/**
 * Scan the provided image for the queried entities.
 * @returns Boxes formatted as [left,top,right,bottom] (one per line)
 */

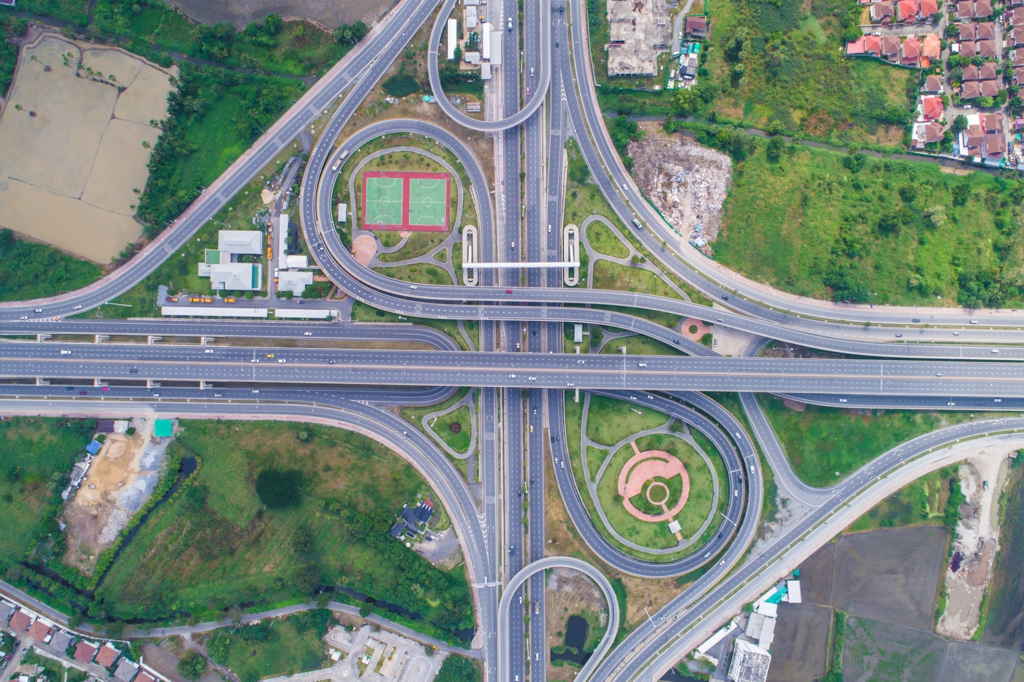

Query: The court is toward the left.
[362,171,450,231]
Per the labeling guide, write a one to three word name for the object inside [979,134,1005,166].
house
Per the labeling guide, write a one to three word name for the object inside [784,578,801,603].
shed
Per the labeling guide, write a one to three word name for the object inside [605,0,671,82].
building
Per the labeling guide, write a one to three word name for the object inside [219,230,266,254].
building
